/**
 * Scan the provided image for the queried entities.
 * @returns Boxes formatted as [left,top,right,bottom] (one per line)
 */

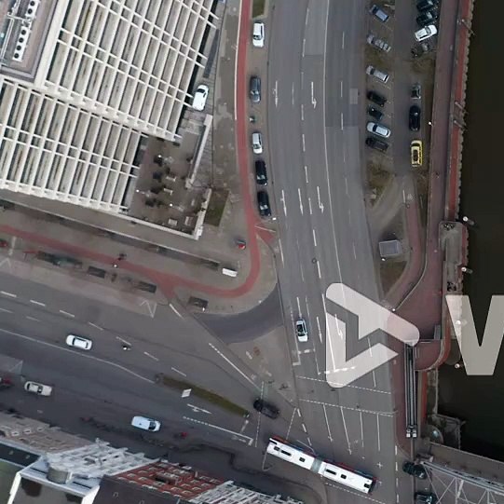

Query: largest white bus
[264,439,375,491]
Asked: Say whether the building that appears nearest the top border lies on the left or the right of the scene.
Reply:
left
